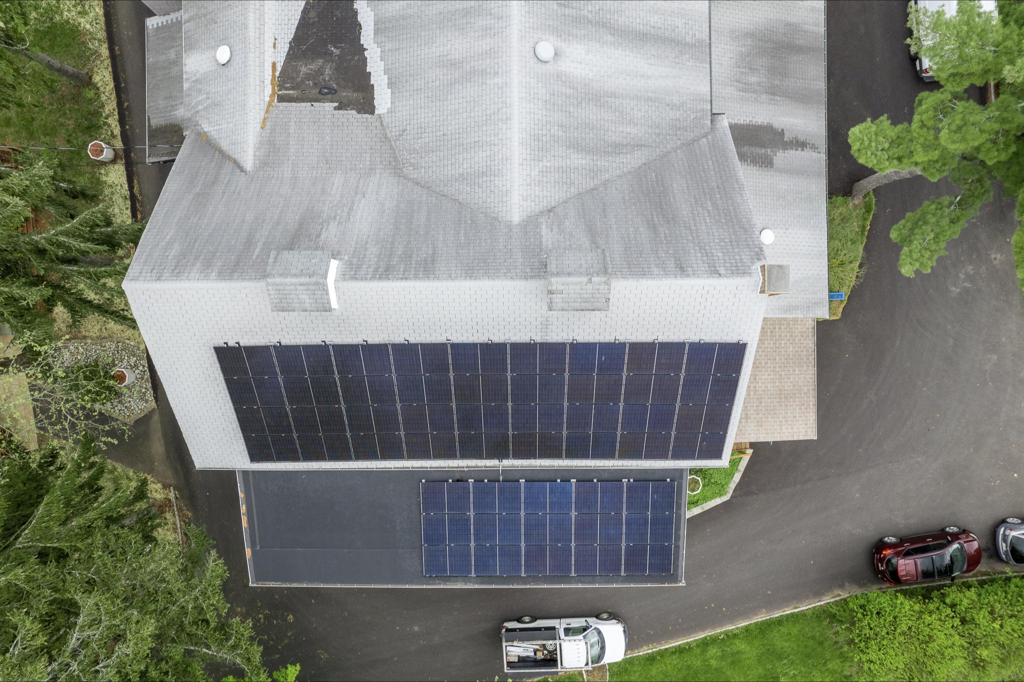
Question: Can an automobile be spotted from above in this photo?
Yes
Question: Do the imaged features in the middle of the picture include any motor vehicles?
No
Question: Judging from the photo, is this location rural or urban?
urban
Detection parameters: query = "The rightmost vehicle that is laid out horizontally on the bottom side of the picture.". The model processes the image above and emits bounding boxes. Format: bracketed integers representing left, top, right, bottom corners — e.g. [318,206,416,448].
[870,526,983,587]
